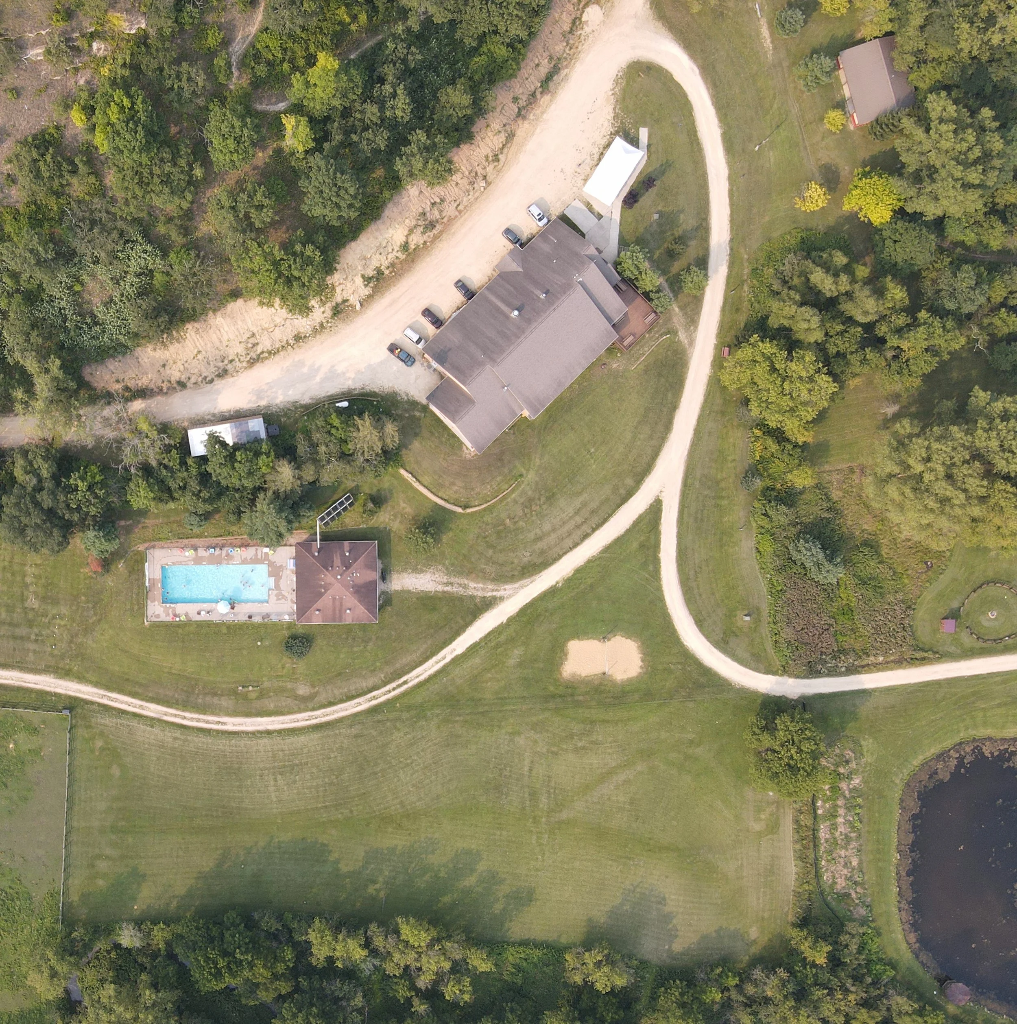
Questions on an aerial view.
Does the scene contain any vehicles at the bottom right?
No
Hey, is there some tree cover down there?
Yes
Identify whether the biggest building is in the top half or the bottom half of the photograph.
top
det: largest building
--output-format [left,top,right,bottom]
[422,216,628,454]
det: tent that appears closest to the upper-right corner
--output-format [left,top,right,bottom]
[580,136,644,207]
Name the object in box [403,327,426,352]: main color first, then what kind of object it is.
white car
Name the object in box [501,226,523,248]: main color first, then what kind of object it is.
gray car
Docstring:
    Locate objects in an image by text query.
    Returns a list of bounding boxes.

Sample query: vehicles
[403,327,426,352]
[387,342,415,367]
[501,226,523,248]
[526,203,548,228]
[453,278,474,302]
[421,307,443,330]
